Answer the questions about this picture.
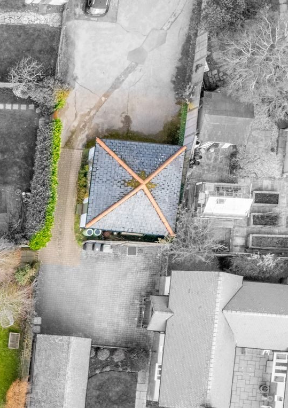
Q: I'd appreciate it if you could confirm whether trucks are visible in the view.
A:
No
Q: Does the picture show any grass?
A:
Yes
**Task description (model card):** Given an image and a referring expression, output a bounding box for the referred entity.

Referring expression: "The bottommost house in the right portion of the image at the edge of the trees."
[139,270,288,408]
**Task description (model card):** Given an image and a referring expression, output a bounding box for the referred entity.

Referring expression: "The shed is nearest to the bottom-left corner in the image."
[29,334,92,408]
